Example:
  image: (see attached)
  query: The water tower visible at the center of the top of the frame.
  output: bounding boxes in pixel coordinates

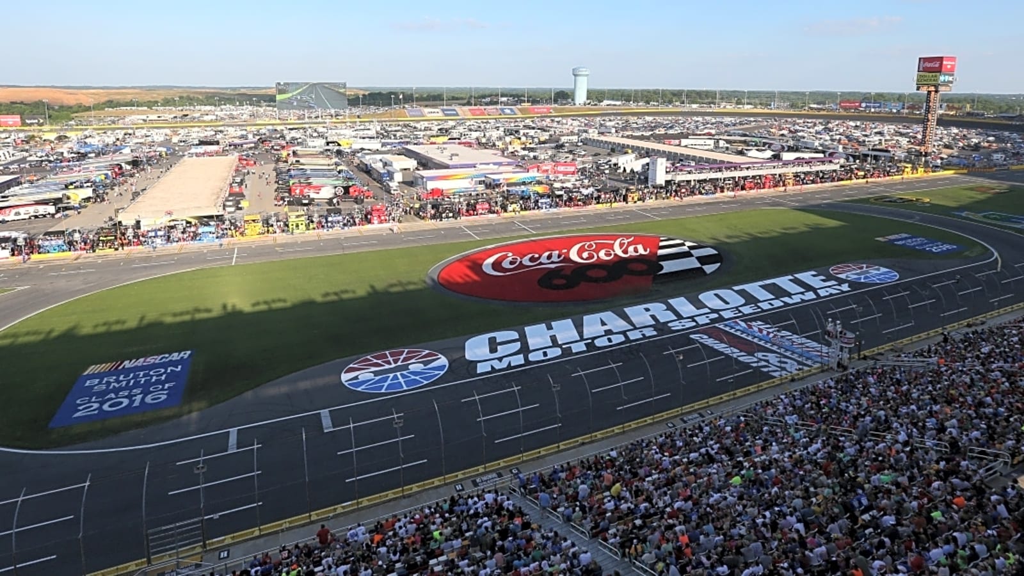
[572,66,589,105]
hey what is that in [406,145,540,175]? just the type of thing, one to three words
building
